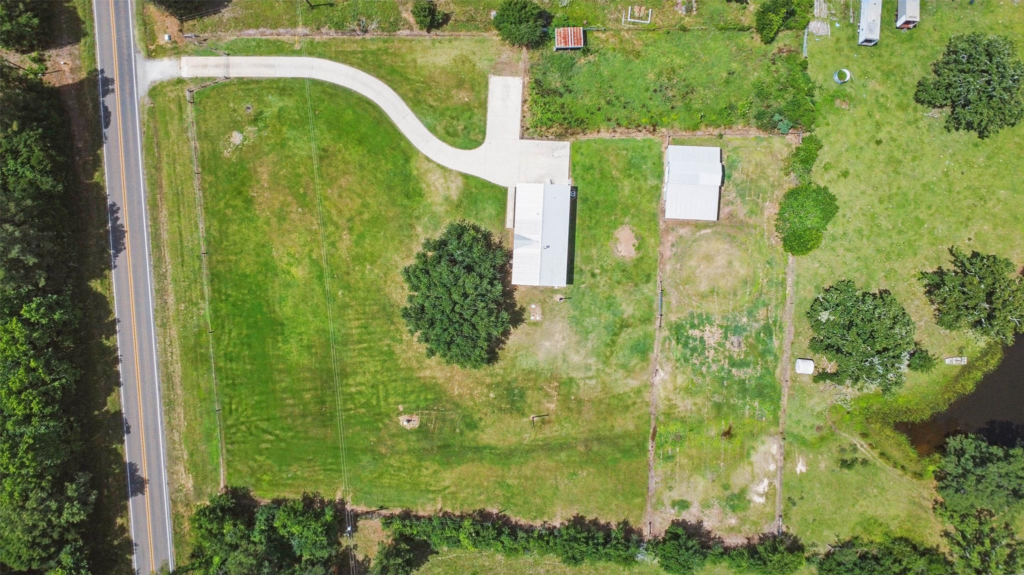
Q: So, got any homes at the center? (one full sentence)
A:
Yes, a home appears at the center.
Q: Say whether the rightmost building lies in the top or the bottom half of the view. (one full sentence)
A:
You can find the rightmost building in the top half.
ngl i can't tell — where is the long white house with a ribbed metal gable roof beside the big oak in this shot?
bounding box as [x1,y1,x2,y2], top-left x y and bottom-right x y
[512,183,571,286]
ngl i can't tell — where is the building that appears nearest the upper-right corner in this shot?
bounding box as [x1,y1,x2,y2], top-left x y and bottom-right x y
[661,145,723,221]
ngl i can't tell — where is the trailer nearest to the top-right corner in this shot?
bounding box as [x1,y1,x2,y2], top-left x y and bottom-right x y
[894,0,920,28]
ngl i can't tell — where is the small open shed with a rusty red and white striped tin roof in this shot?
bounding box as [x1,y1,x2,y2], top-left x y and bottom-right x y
[555,28,583,52]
